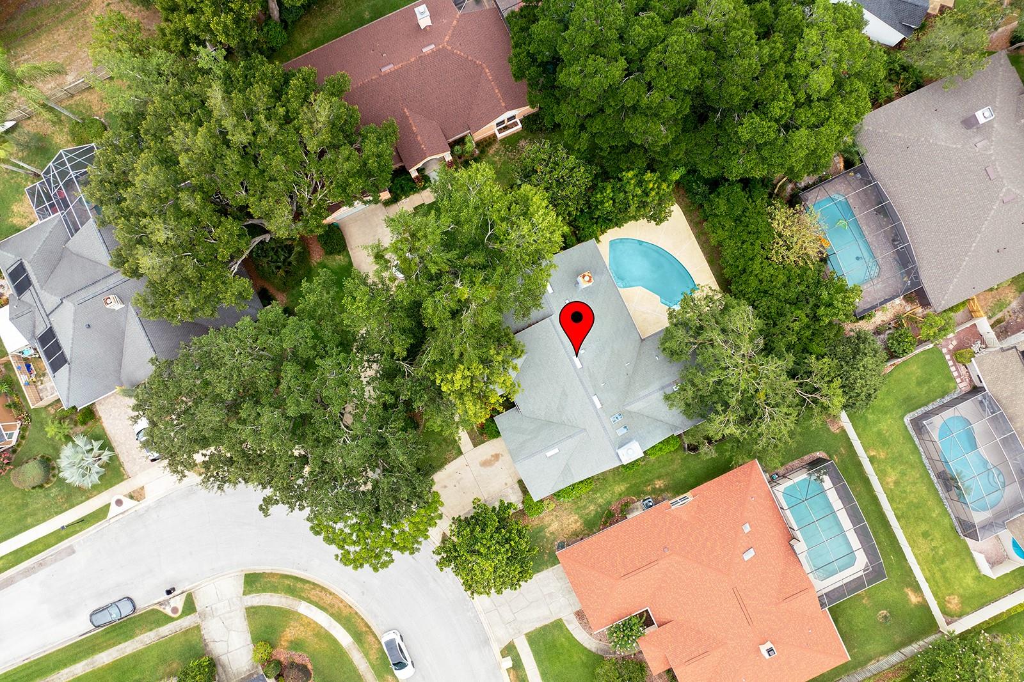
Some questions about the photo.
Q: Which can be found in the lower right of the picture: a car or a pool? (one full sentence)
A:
The one visible in the lower right of the picture is a pool.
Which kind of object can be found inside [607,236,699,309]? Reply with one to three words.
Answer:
swimming pool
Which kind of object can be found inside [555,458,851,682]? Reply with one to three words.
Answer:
house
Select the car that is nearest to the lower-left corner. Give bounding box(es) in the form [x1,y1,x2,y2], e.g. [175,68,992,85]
[83,597,135,632]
